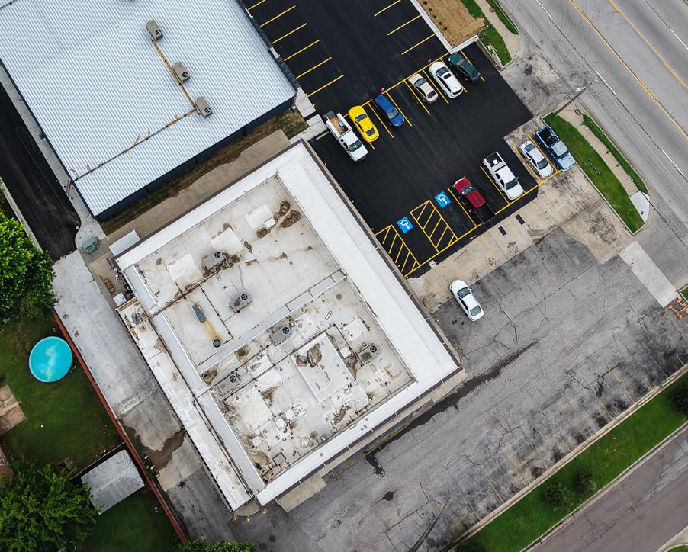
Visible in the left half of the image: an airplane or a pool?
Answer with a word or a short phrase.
pool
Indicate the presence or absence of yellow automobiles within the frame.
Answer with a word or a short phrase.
Yes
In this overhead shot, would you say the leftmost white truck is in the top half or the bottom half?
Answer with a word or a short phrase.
top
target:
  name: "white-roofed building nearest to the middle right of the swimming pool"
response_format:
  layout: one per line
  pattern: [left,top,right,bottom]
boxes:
[106,132,469,517]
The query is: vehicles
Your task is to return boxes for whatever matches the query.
[374,92,405,128]
[349,105,380,143]
[533,124,576,170]
[405,72,441,106]
[452,176,496,227]
[451,278,486,323]
[428,62,464,99]
[326,112,367,161]
[519,138,554,179]
[481,151,523,200]
[446,50,484,87]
